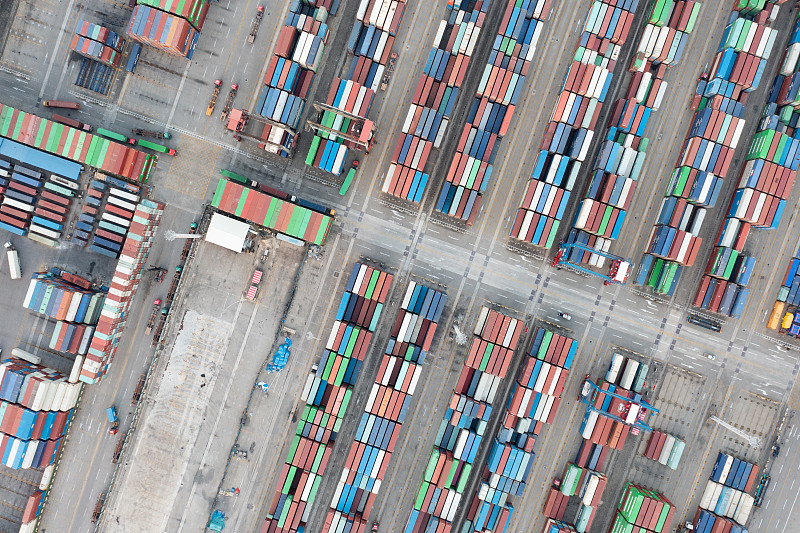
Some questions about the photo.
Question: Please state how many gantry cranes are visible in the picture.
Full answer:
There are 4 gantry cranes in the image.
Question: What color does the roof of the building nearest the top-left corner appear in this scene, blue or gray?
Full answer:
The color of the roof of the building nearest the top-left corner is blue.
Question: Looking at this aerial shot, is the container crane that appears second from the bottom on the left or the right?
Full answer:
The container crane that appears second from the bottom appears in the right half of the scene.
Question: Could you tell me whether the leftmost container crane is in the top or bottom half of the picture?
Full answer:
You can find the leftmost container crane in the top half.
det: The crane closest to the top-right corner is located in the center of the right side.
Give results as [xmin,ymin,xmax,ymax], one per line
[549,234,635,290]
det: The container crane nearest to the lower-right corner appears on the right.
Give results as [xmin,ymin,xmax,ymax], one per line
[575,370,661,434]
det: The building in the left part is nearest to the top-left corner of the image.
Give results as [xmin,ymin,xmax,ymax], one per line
[0,138,88,181]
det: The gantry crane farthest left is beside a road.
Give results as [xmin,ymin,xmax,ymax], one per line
[222,104,302,166]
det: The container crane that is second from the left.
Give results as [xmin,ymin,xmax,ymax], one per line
[304,96,378,160]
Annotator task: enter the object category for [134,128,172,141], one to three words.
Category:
vehicle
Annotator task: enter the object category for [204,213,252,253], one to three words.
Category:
shed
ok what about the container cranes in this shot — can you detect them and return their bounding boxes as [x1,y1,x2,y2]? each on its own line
[549,234,635,290]
[222,104,302,166]
[304,96,378,160]
[575,370,661,434]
